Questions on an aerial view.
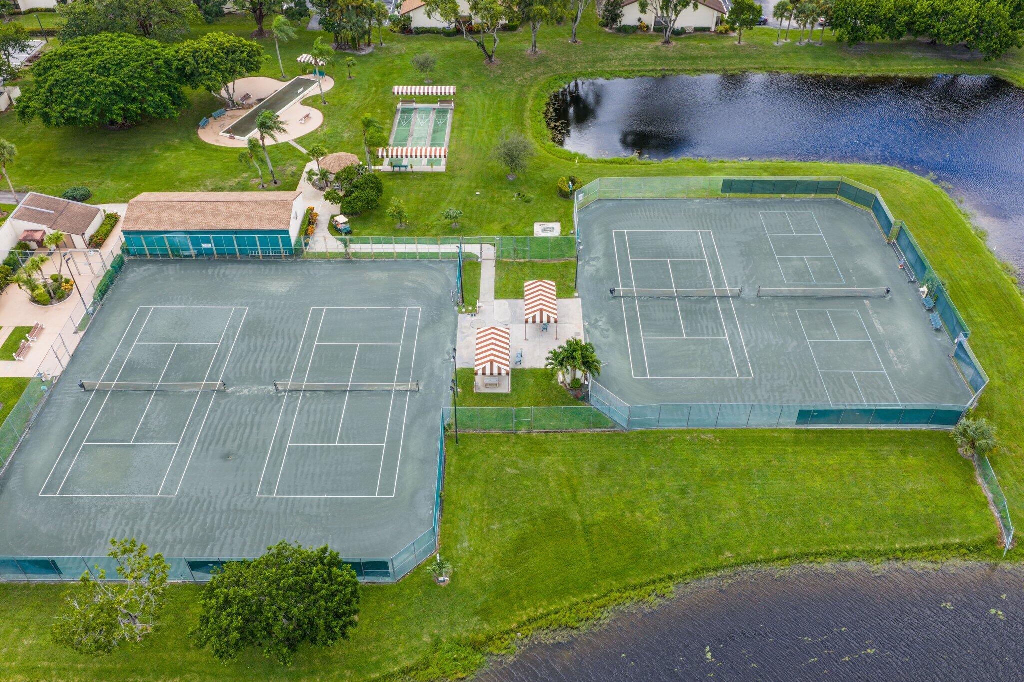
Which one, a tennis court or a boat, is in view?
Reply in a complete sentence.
The one in the frame is a tennis court.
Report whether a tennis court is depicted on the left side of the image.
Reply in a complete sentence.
Yes, the scene does show a tennis court on the left side of the image.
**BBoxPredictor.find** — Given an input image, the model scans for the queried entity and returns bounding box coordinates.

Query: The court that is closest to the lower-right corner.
[760,296,977,430]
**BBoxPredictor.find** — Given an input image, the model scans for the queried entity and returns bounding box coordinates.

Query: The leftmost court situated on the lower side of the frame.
[0,259,296,580]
